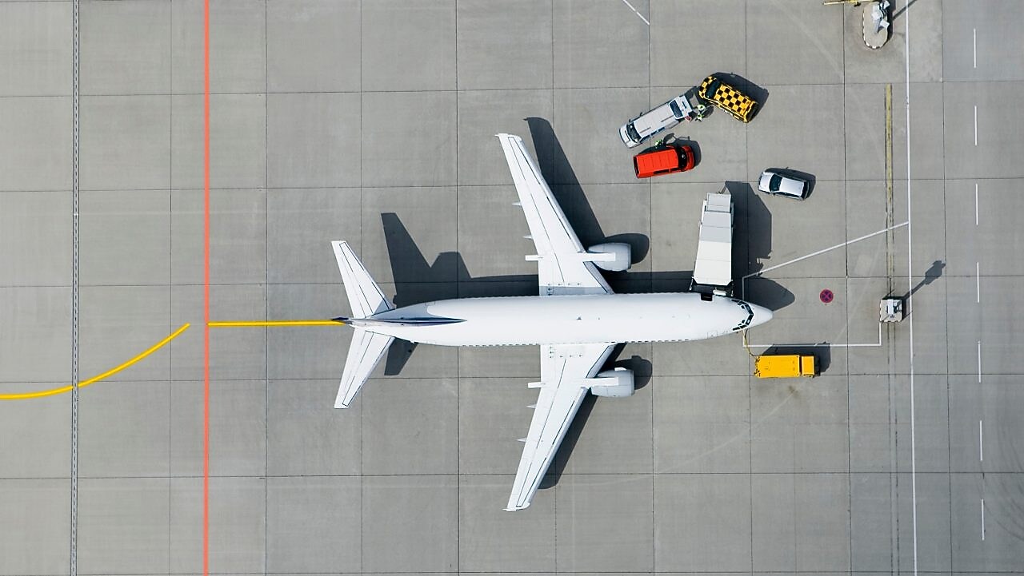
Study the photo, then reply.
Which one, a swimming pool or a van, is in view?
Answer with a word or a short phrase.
van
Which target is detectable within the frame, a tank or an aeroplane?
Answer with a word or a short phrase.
aeroplane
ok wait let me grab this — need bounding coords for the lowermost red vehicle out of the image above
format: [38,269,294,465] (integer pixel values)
[633,145,696,180]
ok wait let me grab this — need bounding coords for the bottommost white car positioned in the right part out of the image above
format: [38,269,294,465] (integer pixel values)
[757,170,810,201]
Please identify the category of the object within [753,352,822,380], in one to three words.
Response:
truck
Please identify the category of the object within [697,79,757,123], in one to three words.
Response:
car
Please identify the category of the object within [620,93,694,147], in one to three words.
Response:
van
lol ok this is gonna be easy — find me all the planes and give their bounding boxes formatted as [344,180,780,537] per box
[332,133,773,510]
